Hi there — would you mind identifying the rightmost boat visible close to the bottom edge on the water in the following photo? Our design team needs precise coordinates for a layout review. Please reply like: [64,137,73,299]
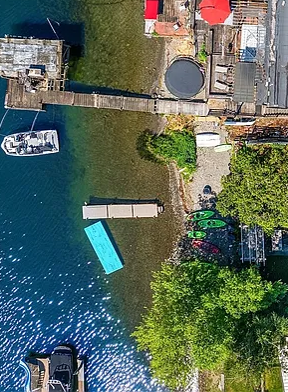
[50,341,76,392]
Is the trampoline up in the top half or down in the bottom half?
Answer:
top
